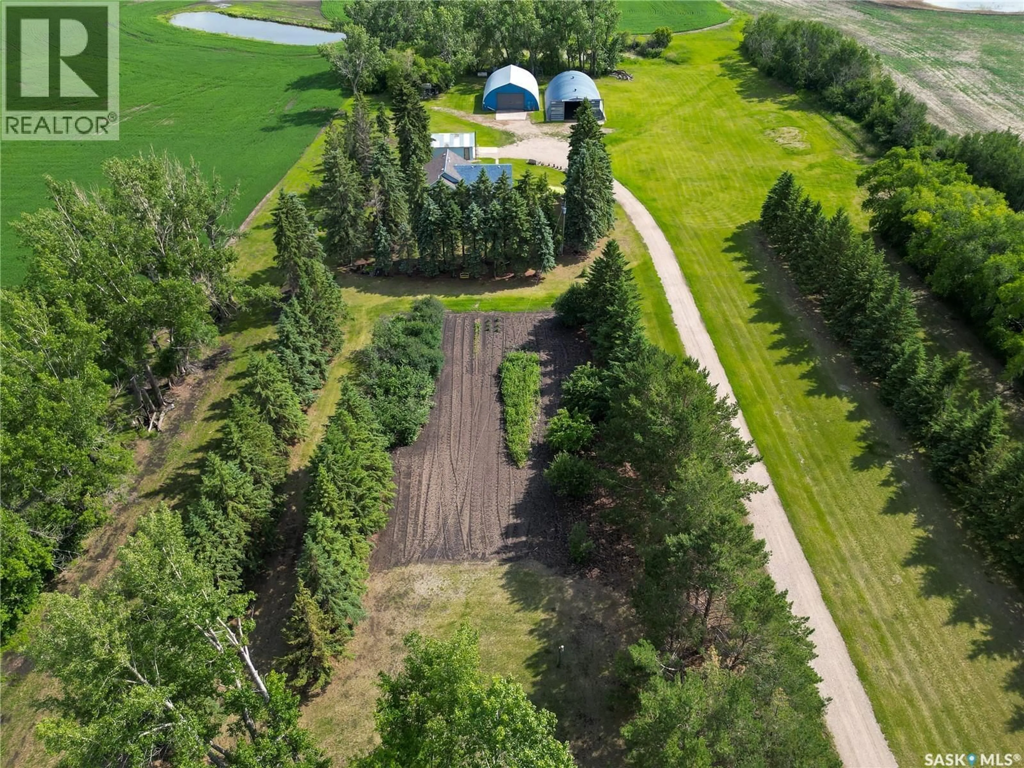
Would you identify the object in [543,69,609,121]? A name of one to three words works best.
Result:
shed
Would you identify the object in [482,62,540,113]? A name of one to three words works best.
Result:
building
